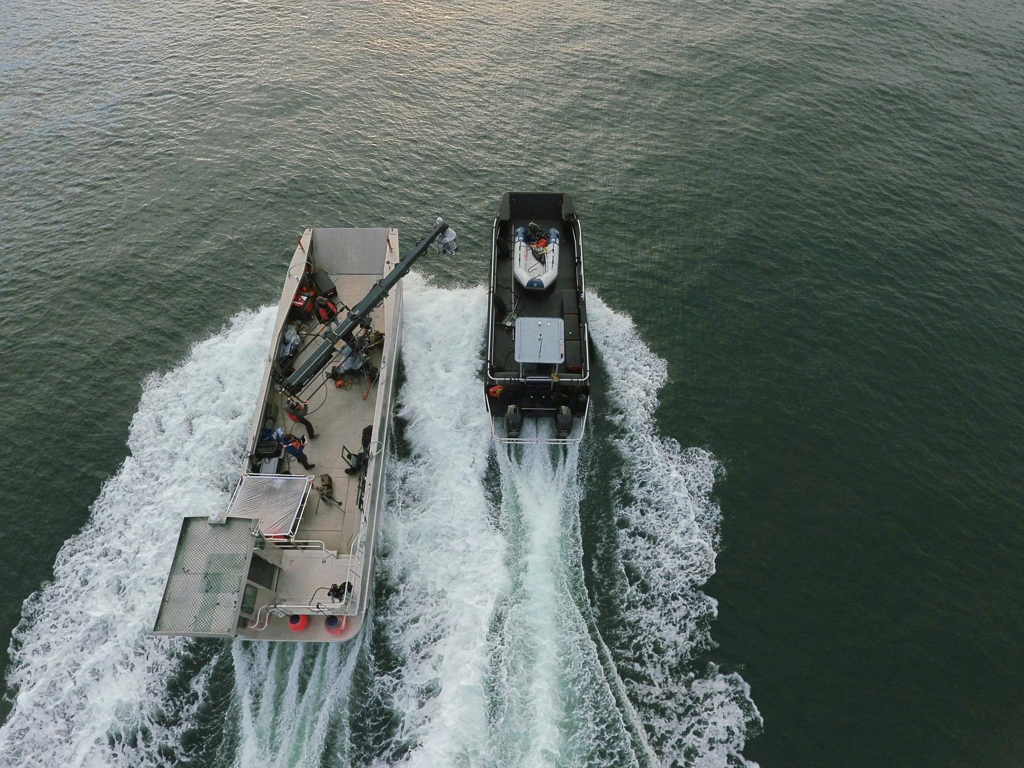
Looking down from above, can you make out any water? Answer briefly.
Yes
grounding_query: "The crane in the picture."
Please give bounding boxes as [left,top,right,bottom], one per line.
[270,216,457,403]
